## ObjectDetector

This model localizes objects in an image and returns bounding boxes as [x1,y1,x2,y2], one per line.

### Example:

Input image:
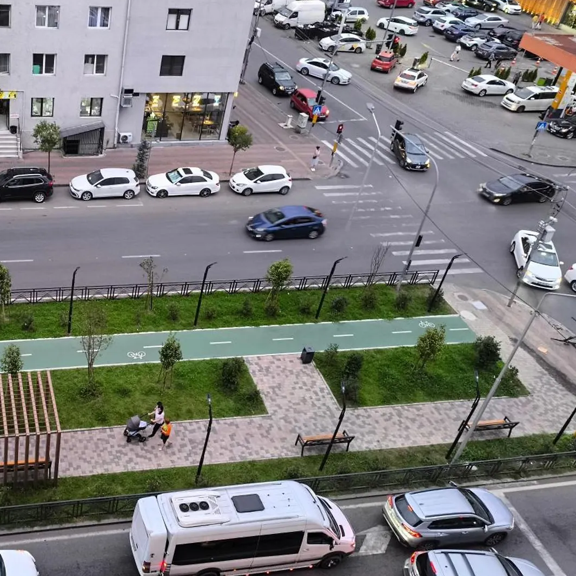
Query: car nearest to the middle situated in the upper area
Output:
[245,204,330,240]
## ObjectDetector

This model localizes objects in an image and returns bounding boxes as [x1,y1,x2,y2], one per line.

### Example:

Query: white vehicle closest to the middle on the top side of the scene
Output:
[227,163,294,195]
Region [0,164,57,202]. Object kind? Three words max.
car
